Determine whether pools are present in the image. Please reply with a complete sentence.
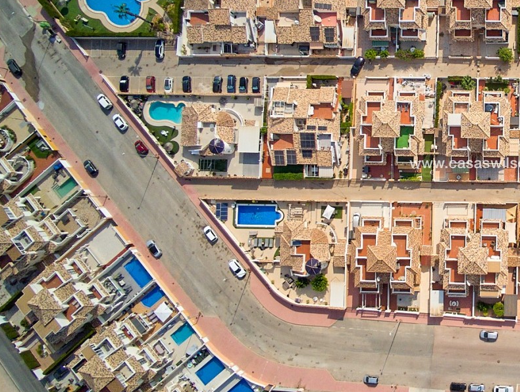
Yes, there is a pool in the image.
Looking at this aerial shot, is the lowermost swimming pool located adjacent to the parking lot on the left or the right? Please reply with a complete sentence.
It is on the left.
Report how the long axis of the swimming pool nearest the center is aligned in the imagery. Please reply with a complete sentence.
From this overhead view, the swimming pool nearest the center appears to run from side to side.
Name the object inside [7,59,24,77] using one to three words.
car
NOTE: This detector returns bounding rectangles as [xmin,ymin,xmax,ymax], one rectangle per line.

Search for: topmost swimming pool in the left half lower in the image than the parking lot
[148,101,186,124]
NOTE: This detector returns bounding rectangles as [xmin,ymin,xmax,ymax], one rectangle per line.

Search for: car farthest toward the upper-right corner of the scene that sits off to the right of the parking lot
[351,57,365,76]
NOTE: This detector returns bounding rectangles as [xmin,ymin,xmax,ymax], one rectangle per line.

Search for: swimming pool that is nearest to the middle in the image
[236,204,284,227]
